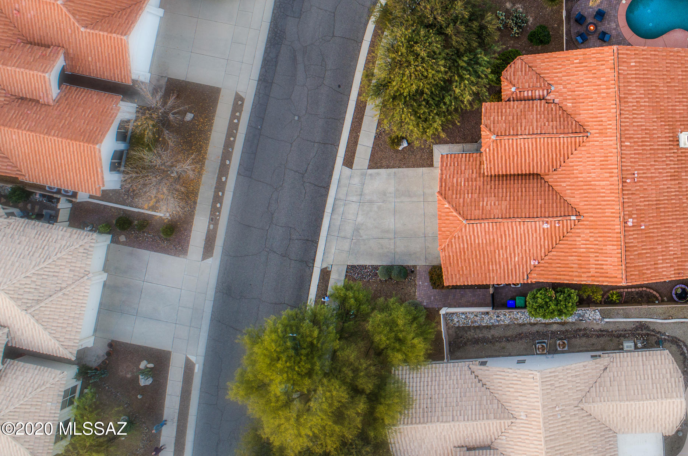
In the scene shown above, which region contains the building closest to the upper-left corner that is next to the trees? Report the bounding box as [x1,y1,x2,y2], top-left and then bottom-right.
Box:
[0,0,174,196]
